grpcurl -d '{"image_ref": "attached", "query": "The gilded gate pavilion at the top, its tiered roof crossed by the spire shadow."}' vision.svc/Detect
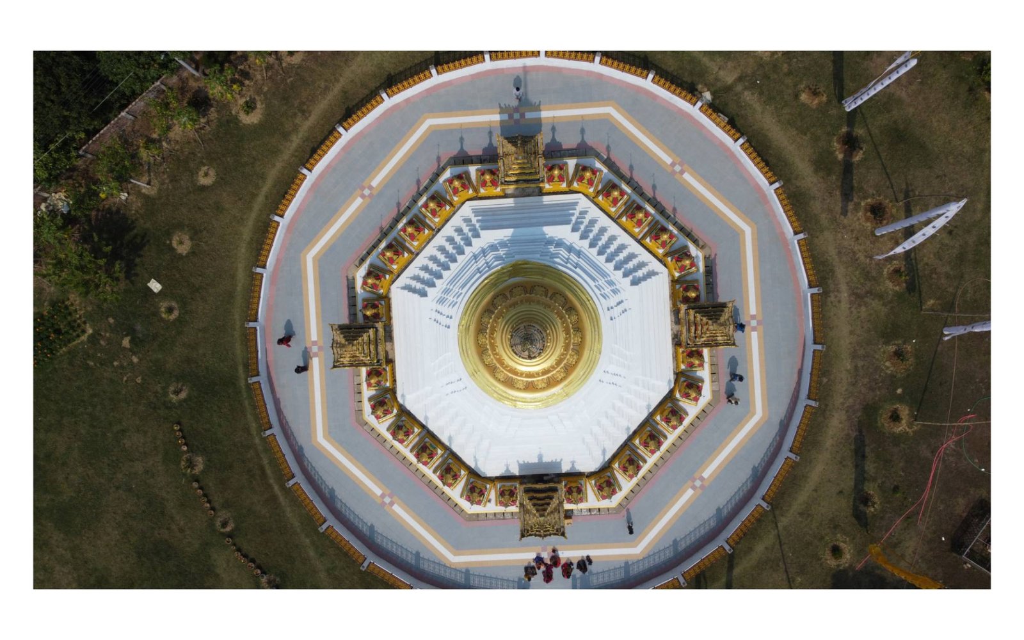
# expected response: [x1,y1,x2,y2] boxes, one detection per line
[493,130,547,191]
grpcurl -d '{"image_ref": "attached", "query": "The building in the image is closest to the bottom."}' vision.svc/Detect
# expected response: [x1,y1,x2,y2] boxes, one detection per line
[514,482,569,541]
